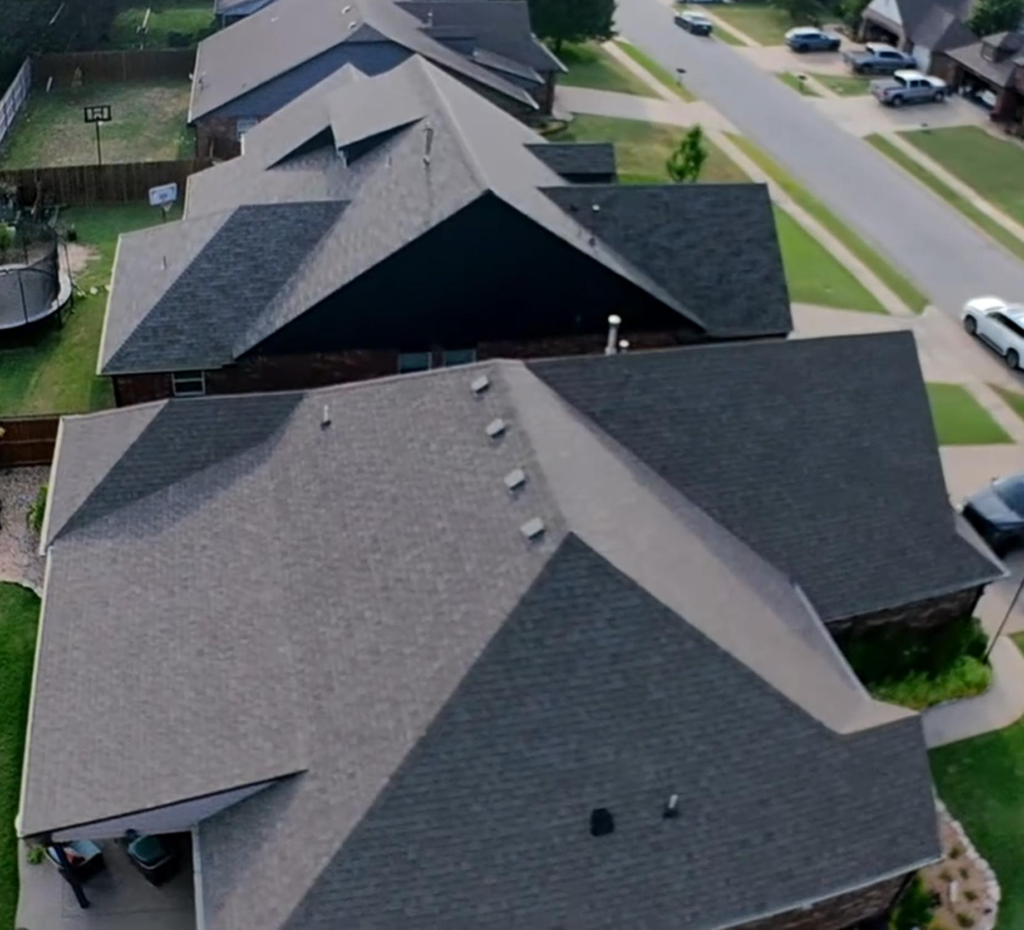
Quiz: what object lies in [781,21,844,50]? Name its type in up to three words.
car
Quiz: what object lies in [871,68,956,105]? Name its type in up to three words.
truck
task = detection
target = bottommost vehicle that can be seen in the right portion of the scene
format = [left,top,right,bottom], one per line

[967,477,1024,544]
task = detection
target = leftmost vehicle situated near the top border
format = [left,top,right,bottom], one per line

[673,4,717,32]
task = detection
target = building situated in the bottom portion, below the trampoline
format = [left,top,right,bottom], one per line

[14,315,1009,930]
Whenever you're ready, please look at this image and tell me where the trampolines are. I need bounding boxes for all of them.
[0,225,95,346]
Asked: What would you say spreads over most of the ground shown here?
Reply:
buildings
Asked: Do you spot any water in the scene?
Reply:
No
